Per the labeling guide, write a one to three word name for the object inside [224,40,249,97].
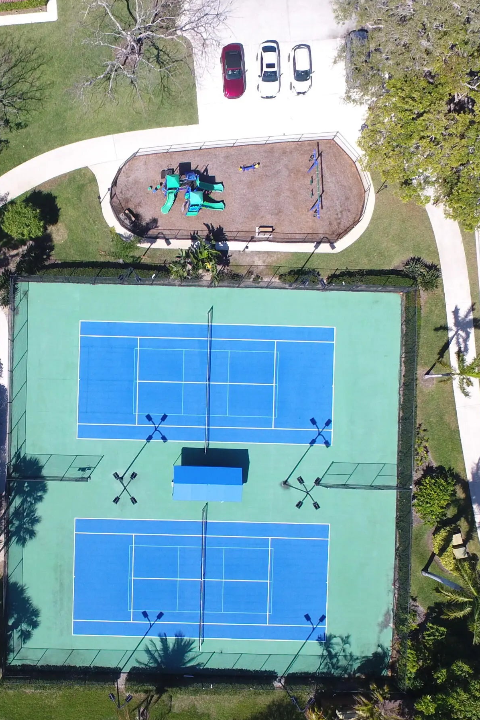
car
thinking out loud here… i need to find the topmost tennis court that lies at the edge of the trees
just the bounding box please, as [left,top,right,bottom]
[9,282,402,485]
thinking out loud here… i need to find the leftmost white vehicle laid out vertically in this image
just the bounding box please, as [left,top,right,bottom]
[259,39,285,95]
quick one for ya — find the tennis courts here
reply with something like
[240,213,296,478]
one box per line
[9,282,402,485]
[5,475,396,679]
